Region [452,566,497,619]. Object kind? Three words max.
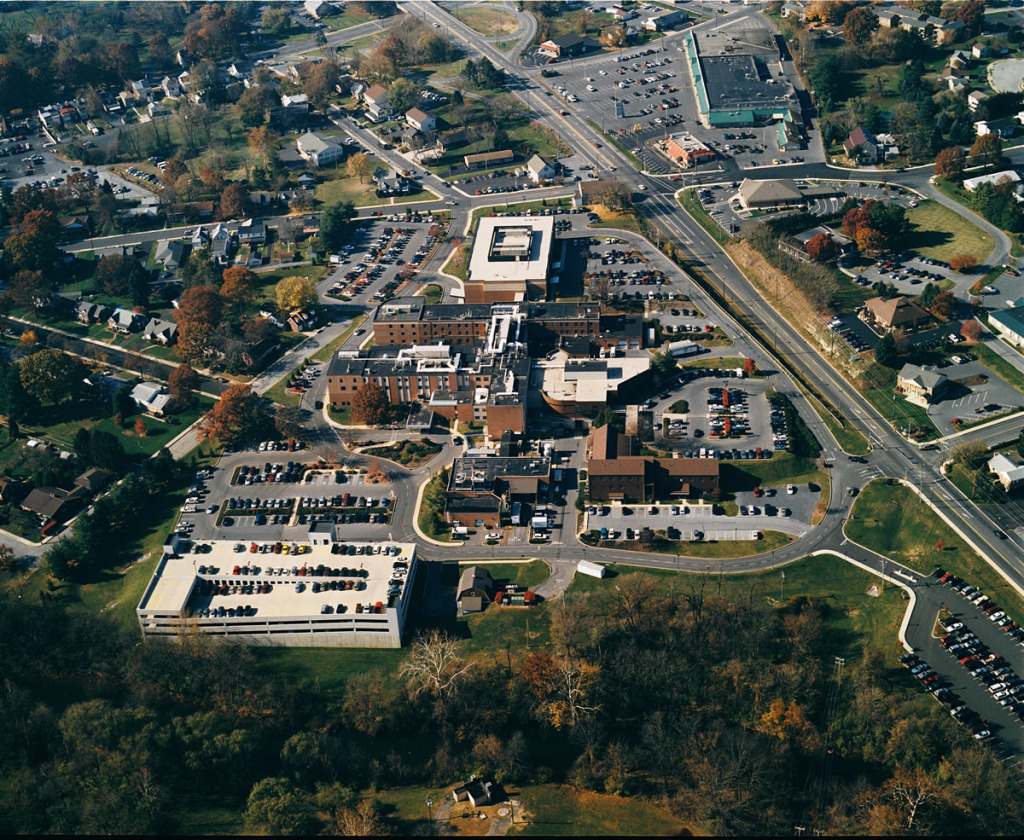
barn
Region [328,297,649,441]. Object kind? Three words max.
building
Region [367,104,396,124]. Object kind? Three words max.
house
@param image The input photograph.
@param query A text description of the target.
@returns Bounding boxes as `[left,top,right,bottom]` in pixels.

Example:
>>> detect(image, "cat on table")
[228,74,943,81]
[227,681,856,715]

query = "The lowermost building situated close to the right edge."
[982,457,1024,497]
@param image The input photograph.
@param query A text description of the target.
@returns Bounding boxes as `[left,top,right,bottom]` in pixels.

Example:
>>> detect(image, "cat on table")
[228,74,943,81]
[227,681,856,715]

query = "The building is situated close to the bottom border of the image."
[452,774,491,808]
